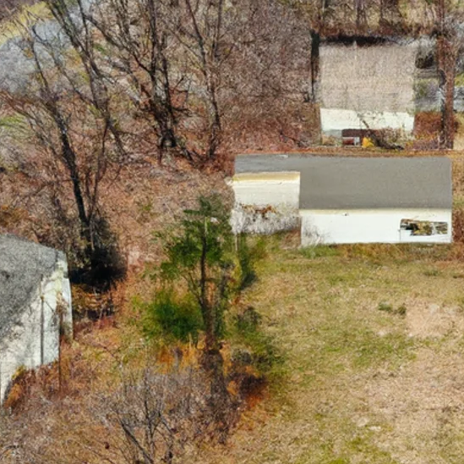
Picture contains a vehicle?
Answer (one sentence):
No, no vehicle is visible in the view.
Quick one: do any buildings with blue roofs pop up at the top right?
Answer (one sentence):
No, there's no building with a blue roof to be seen at the top right.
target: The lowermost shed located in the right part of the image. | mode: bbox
[227,152,458,244]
